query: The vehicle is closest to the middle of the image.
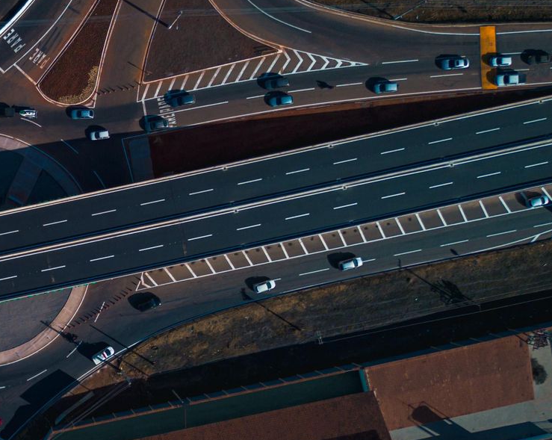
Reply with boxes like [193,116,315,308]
[252,279,275,293]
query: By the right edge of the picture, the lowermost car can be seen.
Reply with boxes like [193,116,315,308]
[523,194,550,208]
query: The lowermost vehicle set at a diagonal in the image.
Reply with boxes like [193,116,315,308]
[90,344,117,366]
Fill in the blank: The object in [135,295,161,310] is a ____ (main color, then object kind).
black car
